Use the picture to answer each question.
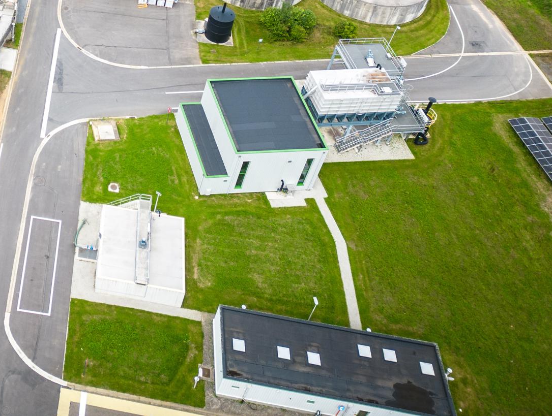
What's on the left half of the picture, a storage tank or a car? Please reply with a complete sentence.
There is a storage tank on the left half of the picture.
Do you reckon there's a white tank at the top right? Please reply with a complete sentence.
No, at the top right there is no white tank.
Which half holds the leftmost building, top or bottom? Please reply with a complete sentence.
The top half of the photo is where the leftmost building is.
